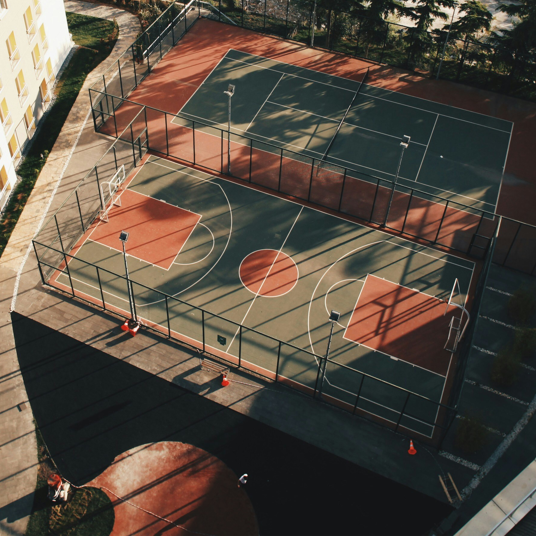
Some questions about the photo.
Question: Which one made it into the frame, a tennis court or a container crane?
tennis court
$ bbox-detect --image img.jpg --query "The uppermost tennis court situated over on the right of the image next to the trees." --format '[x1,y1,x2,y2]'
[173,50,512,219]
